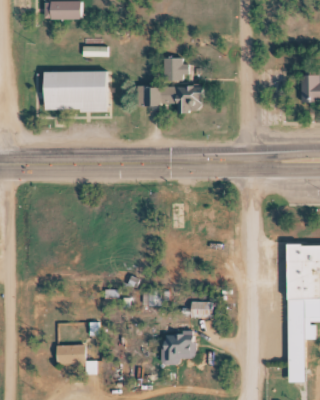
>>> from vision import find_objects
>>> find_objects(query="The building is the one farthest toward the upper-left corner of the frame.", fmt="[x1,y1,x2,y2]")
[44,2,84,20]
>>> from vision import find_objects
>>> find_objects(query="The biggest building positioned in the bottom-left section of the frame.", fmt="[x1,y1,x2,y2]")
[56,344,86,366]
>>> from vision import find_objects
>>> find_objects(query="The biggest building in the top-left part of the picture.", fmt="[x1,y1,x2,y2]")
[42,72,109,112]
